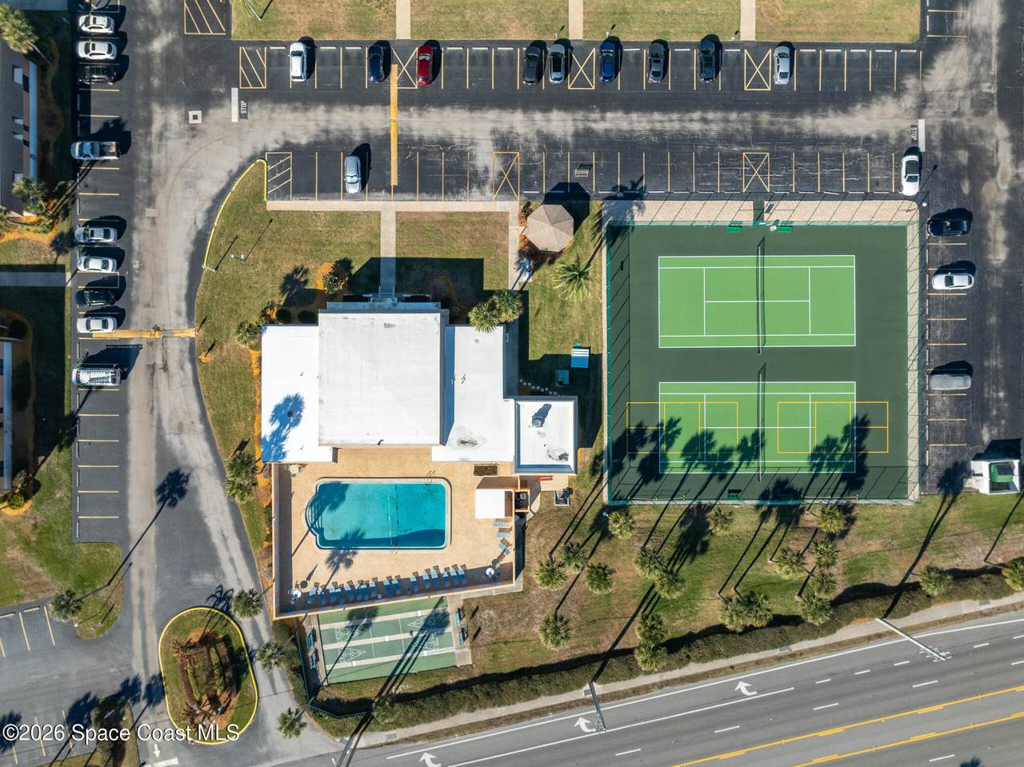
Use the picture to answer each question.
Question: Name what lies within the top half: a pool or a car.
car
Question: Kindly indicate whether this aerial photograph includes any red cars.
Yes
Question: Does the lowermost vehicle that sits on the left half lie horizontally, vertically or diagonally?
horizontally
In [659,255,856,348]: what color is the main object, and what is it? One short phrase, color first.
green tennis court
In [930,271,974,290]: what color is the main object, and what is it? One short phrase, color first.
white car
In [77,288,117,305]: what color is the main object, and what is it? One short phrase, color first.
black car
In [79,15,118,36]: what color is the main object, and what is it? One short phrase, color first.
white car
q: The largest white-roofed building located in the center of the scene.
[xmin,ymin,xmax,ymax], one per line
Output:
[262,284,577,474]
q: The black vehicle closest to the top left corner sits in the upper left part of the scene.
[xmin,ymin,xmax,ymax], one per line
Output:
[78,65,118,84]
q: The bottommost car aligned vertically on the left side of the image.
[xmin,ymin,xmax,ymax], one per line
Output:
[343,154,362,194]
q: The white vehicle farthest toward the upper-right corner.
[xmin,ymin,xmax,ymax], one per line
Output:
[899,152,921,197]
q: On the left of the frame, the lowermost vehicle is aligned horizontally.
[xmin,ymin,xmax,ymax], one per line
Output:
[75,364,124,386]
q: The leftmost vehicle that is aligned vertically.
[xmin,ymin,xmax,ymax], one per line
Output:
[289,42,308,83]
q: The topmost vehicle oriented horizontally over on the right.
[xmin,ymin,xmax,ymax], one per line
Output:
[927,217,970,236]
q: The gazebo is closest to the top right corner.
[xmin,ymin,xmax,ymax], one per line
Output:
[527,205,574,252]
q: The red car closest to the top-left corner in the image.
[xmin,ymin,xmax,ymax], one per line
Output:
[416,46,434,86]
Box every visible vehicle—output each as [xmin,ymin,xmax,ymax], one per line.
[649,42,667,83]
[367,44,385,84]
[72,140,122,161]
[601,42,619,83]
[927,217,970,236]
[416,46,434,86]
[78,315,118,332]
[772,46,791,87]
[78,40,119,61]
[899,152,921,197]
[79,15,118,36]
[78,255,118,272]
[77,288,117,305]
[522,46,541,86]
[75,364,124,386]
[77,225,118,243]
[343,154,362,194]
[289,42,308,83]
[78,65,118,84]
[930,271,974,290]
[549,44,567,84]
[697,40,717,82]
